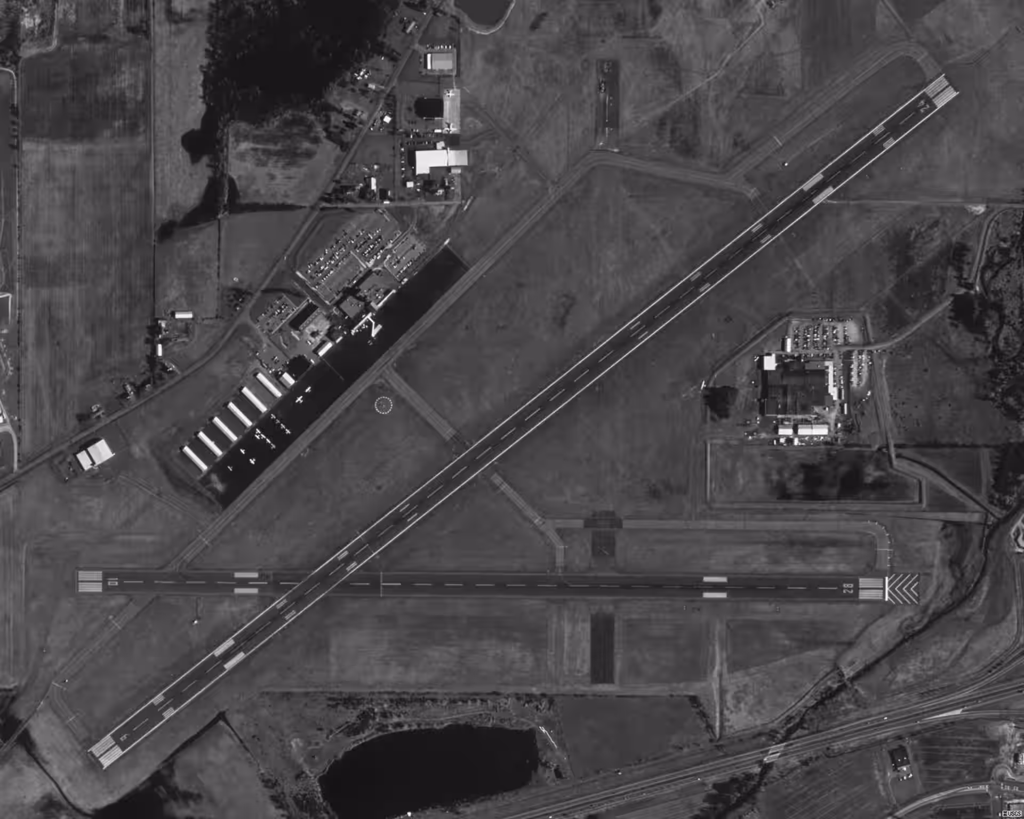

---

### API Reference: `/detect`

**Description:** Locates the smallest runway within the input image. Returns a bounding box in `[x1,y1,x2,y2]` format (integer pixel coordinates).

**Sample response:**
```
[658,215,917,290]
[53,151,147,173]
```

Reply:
[77,570,887,601]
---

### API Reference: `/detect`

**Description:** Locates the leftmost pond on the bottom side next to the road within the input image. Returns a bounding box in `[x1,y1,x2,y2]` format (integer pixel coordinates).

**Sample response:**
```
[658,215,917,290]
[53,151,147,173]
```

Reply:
[318,723,540,819]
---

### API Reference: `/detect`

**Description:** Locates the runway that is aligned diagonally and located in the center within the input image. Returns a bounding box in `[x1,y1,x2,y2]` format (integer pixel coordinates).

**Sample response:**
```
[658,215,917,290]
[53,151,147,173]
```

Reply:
[87,72,960,772]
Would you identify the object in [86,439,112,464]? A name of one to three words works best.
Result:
building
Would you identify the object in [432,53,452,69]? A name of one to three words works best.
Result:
building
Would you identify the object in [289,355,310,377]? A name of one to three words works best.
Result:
hangar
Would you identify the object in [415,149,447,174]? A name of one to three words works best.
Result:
hangar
